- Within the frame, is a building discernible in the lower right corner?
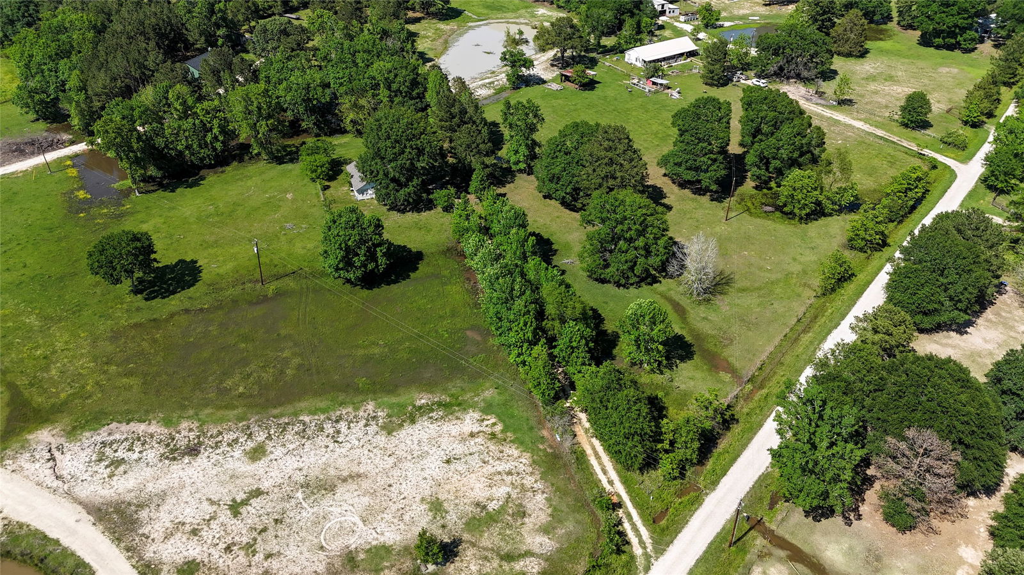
No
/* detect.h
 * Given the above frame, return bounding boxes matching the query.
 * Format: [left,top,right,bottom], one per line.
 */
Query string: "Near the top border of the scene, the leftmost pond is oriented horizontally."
[443,24,545,80]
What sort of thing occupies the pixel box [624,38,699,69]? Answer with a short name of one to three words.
house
